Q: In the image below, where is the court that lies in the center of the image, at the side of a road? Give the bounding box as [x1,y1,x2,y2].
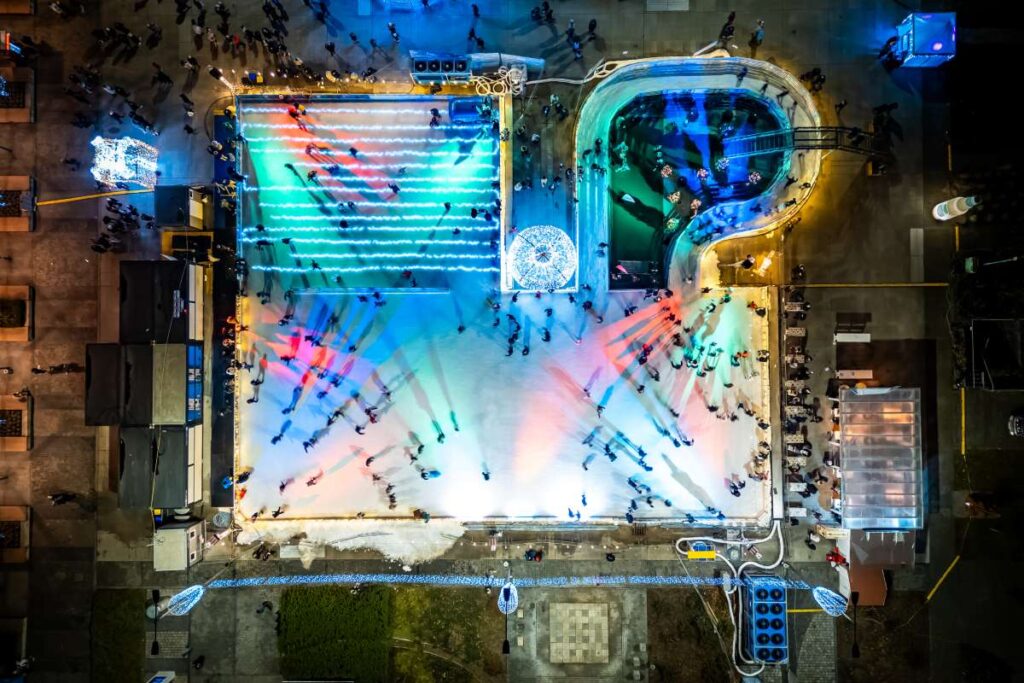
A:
[241,71,813,517]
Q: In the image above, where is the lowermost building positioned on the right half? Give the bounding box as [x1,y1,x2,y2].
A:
[819,384,922,529]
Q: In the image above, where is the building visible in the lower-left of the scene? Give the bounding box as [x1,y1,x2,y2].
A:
[147,517,208,571]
